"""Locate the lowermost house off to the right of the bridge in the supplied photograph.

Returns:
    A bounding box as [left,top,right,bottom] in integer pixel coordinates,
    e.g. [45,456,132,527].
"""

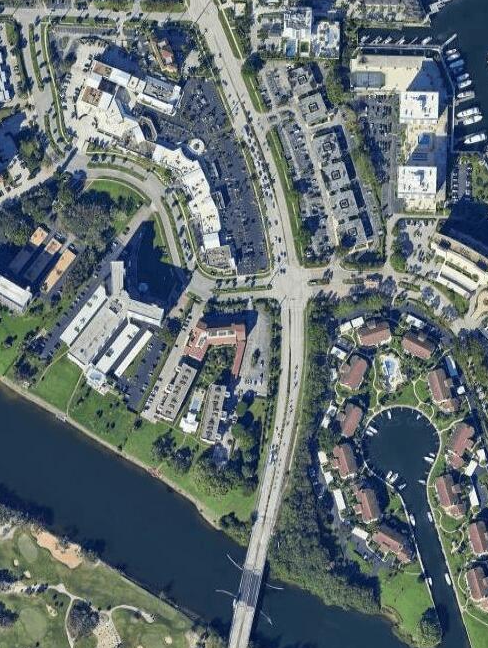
[465,567,488,610]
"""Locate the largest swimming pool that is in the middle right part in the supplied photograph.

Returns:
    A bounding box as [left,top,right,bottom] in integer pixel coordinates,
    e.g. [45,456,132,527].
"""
[380,352,402,387]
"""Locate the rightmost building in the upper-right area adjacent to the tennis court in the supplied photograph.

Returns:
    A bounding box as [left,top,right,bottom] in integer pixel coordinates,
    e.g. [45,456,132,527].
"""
[400,92,438,128]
